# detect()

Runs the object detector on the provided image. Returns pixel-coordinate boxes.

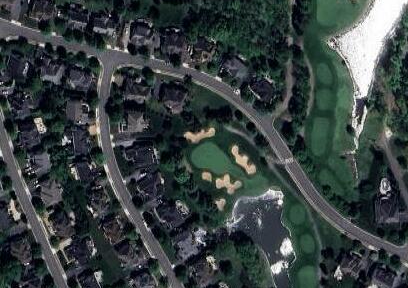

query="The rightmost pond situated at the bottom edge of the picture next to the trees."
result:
[230,190,296,288]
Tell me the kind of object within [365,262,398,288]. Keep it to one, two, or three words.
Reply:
house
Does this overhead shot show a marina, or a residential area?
residential area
